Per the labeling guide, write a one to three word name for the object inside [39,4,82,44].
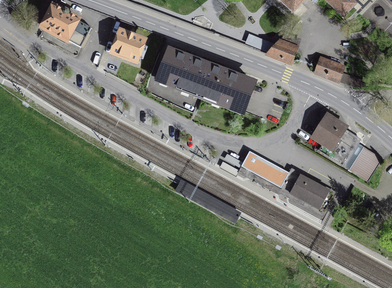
house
